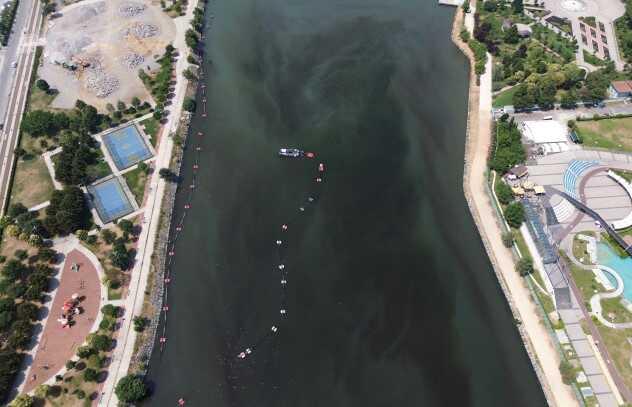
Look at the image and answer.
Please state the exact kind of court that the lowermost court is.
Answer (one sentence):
I'd say the lowermost court is a tennis court.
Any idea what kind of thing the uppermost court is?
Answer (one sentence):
Looking closely, the uppermost court is a basketball court.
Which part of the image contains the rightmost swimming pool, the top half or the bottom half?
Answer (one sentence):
The rightmost swimming pool sits in the bottom half of the picture.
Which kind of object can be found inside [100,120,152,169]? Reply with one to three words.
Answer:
basketball court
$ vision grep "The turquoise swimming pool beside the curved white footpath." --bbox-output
[596,242,632,303]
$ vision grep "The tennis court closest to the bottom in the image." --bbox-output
[86,172,134,224]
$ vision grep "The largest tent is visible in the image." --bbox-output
[523,120,567,146]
